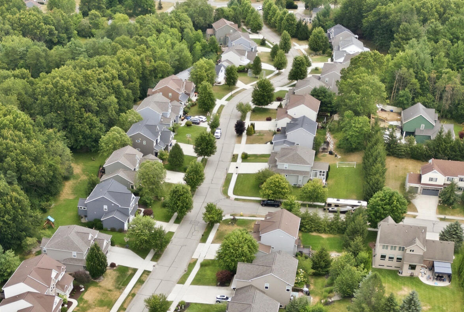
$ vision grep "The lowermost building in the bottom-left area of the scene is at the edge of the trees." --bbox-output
[0,251,75,312]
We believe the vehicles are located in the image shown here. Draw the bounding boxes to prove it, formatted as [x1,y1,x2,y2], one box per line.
[196,115,208,123]
[325,197,369,213]
[261,198,282,208]
[215,129,222,137]
[214,294,233,303]
[187,116,202,125]
[182,113,194,119]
